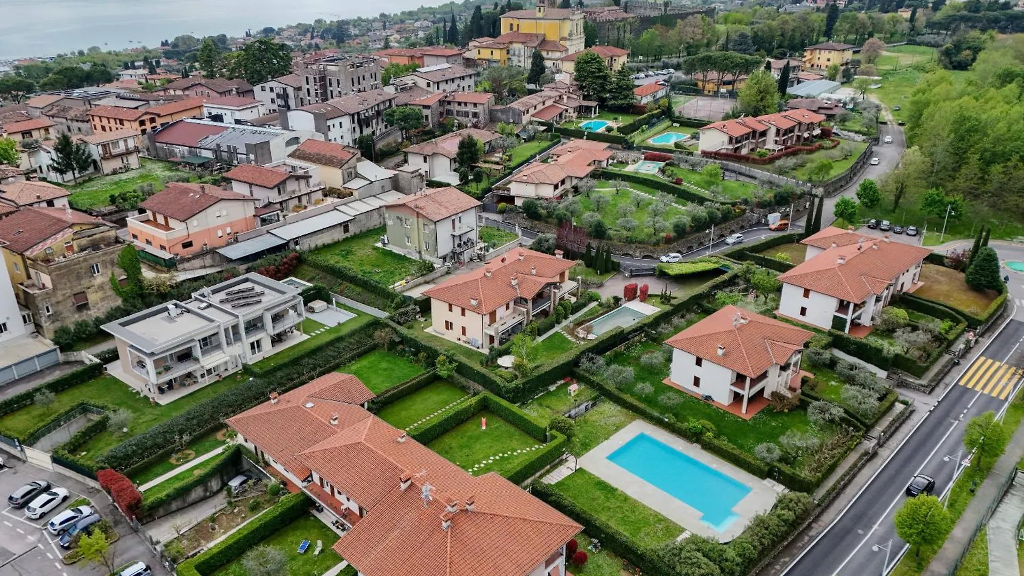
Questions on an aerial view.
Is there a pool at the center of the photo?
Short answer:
Yes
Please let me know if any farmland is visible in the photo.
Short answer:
No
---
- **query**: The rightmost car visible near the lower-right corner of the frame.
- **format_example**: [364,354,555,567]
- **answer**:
[906,474,937,504]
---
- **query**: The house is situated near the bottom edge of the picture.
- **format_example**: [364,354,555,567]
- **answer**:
[225,370,585,576]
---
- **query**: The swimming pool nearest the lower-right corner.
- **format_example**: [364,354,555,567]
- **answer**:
[580,424,779,540]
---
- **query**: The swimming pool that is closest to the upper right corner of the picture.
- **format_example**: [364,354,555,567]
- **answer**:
[646,131,690,147]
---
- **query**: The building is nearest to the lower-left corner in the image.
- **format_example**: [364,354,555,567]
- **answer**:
[0,332,63,388]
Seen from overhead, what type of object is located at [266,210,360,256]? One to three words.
shed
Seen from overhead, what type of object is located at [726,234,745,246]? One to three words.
vehicle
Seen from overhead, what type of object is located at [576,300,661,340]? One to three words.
swimming pool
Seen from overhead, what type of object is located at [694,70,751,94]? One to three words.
house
